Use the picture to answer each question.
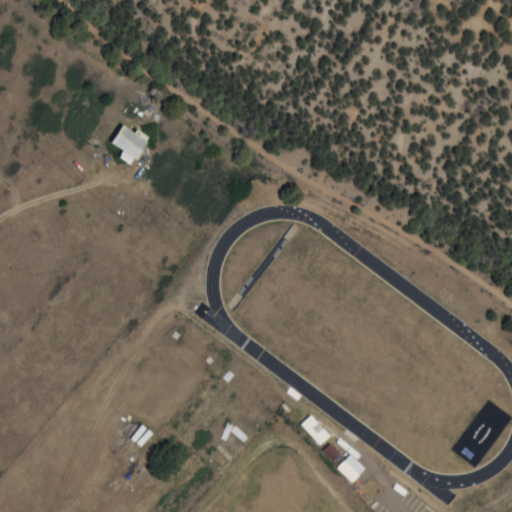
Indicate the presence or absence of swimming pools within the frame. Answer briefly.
No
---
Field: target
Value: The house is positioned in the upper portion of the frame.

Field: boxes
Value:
[111,124,150,164]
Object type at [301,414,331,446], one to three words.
building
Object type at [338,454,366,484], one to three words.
building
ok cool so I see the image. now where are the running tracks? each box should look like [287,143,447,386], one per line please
[196,206,512,504]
